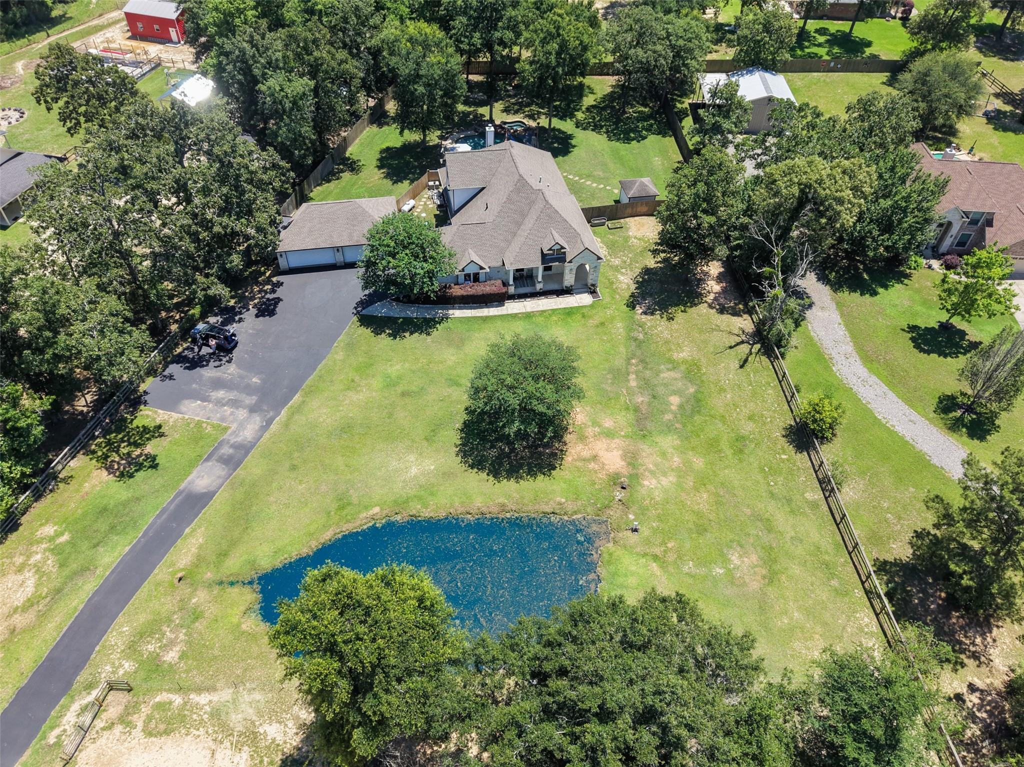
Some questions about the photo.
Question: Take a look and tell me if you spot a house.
Yes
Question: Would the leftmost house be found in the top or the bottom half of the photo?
top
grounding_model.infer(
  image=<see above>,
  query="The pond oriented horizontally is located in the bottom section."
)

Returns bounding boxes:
[251,513,616,681]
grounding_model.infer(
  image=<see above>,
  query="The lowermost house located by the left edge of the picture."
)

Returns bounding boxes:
[0,168,50,238]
